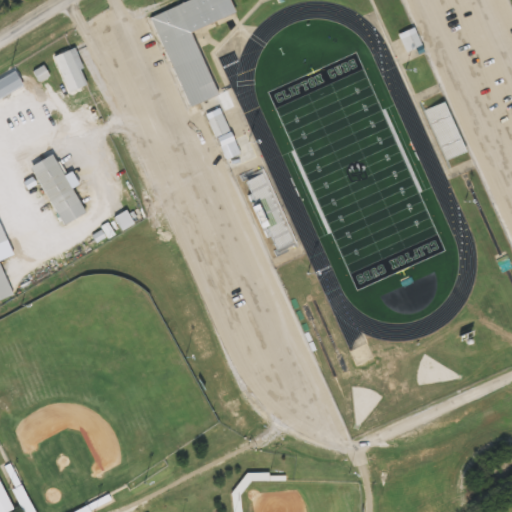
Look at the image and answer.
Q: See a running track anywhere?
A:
Yes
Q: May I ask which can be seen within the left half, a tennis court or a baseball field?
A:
baseball field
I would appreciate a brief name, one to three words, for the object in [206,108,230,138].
building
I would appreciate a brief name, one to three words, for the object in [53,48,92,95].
barn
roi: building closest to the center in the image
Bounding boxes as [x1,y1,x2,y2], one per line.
[218,132,240,164]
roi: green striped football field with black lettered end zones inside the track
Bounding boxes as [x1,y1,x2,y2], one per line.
[254,18,460,324]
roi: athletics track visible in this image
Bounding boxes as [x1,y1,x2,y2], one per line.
[219,0,478,348]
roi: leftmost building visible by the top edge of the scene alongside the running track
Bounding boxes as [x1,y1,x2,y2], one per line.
[150,0,236,106]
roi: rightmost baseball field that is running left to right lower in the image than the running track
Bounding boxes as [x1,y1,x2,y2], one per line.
[244,482,362,512]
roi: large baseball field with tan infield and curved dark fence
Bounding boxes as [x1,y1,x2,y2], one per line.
[0,272,220,512]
